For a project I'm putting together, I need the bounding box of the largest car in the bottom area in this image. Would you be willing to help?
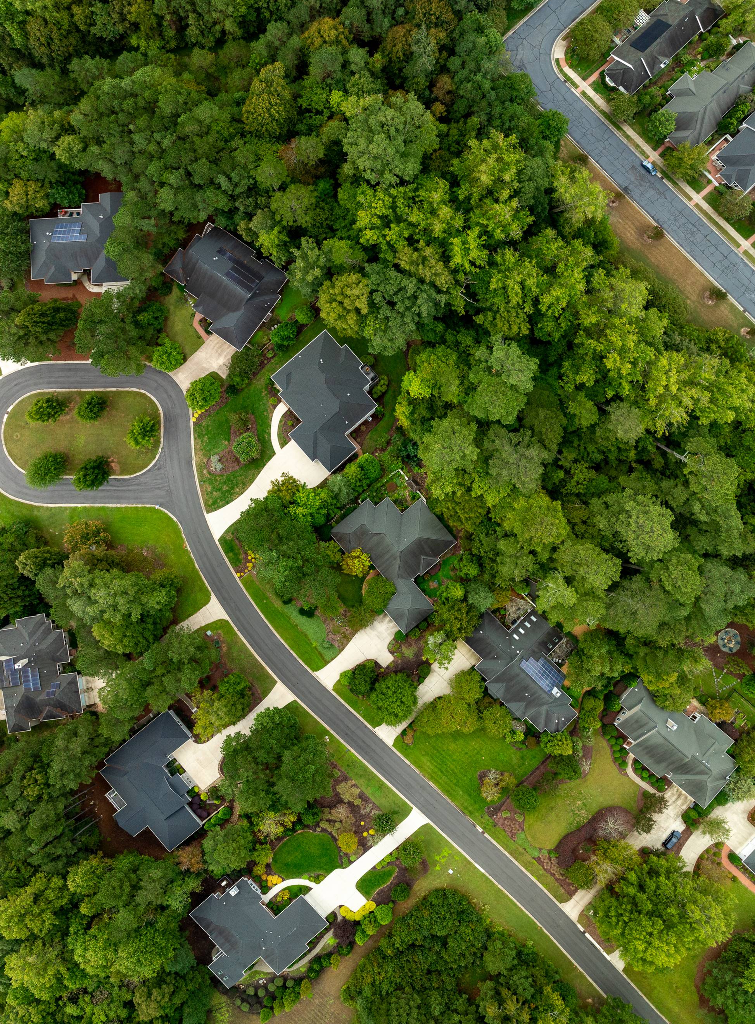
[664,829,680,851]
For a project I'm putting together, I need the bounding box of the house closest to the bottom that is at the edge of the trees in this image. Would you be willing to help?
[189,876,329,989]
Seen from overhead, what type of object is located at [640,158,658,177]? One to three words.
car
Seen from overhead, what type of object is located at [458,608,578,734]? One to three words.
house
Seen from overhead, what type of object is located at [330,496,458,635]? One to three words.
house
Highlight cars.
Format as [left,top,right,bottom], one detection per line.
[640,158,658,177]
[664,829,680,851]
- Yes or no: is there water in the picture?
No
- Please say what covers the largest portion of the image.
trees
